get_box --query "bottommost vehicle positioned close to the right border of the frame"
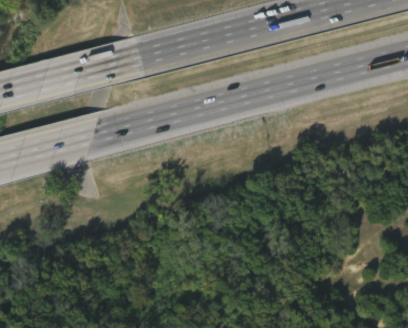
[368,54,408,70]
